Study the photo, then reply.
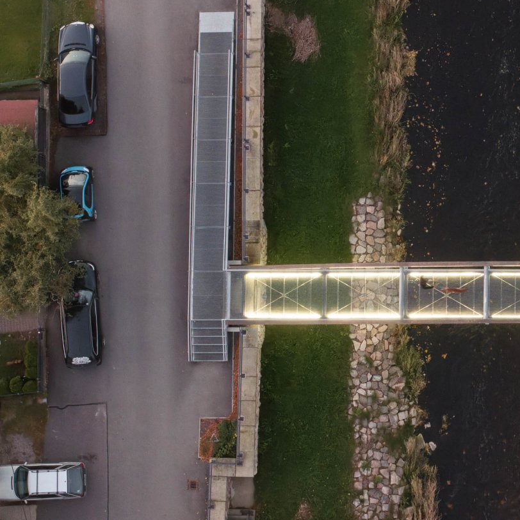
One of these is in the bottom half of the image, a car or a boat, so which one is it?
car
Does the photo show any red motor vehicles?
No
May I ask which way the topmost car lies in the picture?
vertically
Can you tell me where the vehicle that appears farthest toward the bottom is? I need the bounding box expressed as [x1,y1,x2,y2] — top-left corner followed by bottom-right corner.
[0,462,86,508]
